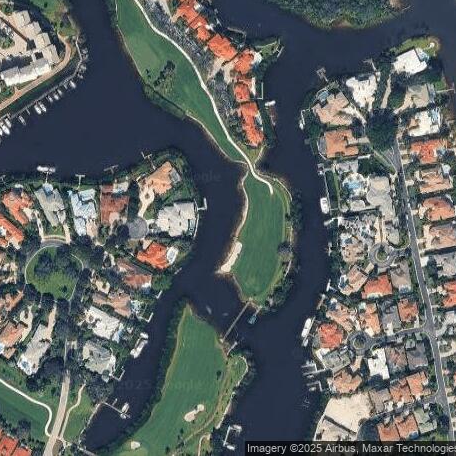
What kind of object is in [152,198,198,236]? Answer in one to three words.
house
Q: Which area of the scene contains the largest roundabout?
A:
left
